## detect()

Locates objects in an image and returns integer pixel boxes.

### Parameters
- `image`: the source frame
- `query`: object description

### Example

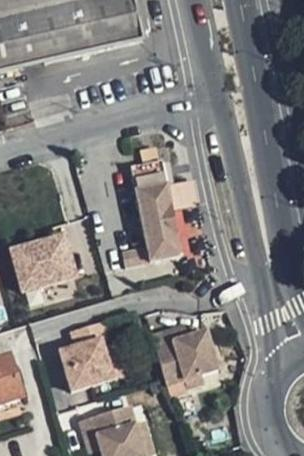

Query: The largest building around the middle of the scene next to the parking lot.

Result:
[123,146,200,268]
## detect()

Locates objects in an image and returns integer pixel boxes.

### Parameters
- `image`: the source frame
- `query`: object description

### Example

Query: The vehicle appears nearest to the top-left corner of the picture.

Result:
[0,88,22,101]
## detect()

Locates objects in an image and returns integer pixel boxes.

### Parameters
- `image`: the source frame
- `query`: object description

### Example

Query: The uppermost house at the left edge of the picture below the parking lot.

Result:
[10,232,84,309]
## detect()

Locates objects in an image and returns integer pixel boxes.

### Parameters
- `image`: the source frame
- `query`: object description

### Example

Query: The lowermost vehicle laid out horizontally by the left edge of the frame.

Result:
[8,154,32,168]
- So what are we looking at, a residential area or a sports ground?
residential area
